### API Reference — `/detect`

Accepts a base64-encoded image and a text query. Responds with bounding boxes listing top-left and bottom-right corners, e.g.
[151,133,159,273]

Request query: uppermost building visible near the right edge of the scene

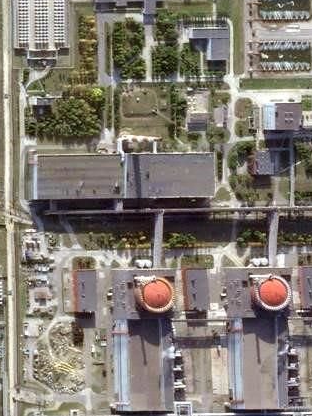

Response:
[264,102,303,129]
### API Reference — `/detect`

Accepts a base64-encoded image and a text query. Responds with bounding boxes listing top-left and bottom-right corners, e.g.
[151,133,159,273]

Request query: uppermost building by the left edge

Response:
[11,0,69,46]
